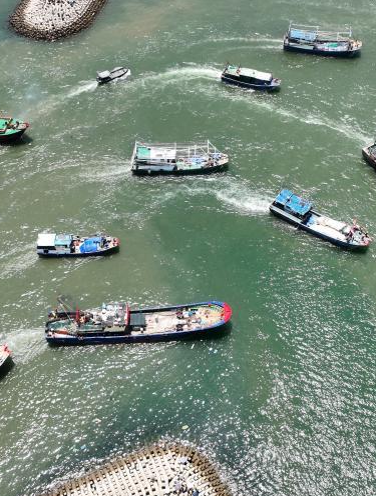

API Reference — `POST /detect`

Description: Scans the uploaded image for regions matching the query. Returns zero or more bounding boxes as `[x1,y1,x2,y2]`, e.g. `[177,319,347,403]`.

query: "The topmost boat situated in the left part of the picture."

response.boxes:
[96,68,130,83]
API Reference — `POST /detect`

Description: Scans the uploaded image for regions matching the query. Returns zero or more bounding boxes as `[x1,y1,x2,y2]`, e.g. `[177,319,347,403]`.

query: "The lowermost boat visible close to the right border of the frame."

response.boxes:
[269,192,371,246]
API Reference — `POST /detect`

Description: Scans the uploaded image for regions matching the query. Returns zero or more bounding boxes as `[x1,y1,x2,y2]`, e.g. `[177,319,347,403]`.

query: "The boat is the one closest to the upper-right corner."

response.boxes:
[283,25,361,55]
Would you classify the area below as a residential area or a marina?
marina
